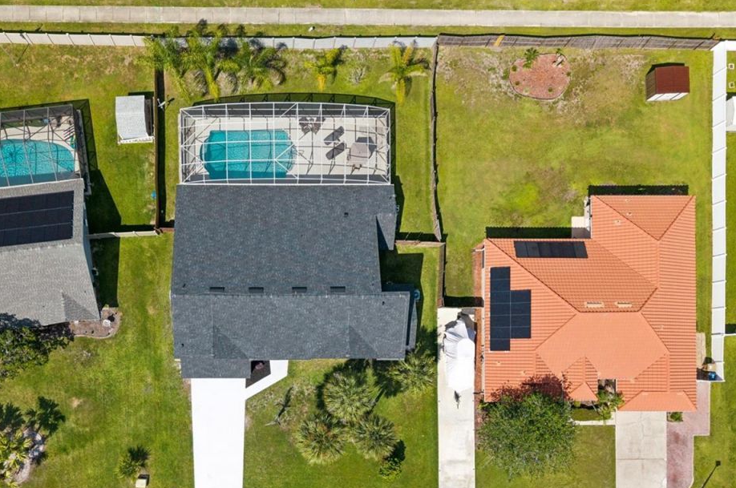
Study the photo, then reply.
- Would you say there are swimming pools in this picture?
Yes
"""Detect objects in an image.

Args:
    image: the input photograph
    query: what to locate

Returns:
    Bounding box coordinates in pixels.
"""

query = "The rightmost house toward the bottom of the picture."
[473,194,697,412]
